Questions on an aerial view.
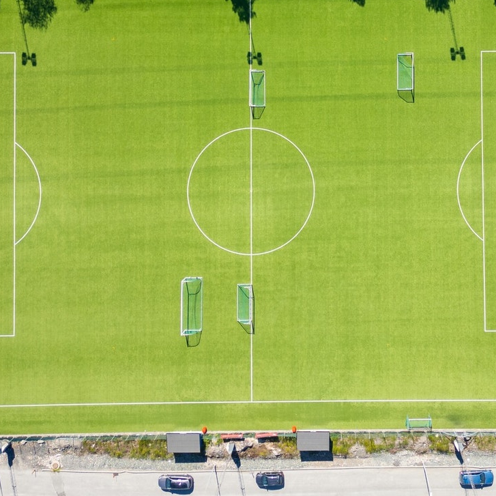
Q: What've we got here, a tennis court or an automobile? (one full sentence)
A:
Visible in the photo is an automobile.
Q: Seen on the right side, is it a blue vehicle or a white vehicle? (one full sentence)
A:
The feature located on the right side is a blue vehicle.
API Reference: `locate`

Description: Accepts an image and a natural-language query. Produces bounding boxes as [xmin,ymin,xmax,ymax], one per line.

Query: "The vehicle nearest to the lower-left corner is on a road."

[159,473,194,490]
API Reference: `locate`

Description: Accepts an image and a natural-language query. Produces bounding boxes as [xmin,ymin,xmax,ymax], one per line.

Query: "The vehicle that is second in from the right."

[256,471,286,487]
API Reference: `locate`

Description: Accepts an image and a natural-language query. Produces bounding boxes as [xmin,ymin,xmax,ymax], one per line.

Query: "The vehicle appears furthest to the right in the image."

[459,468,493,486]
